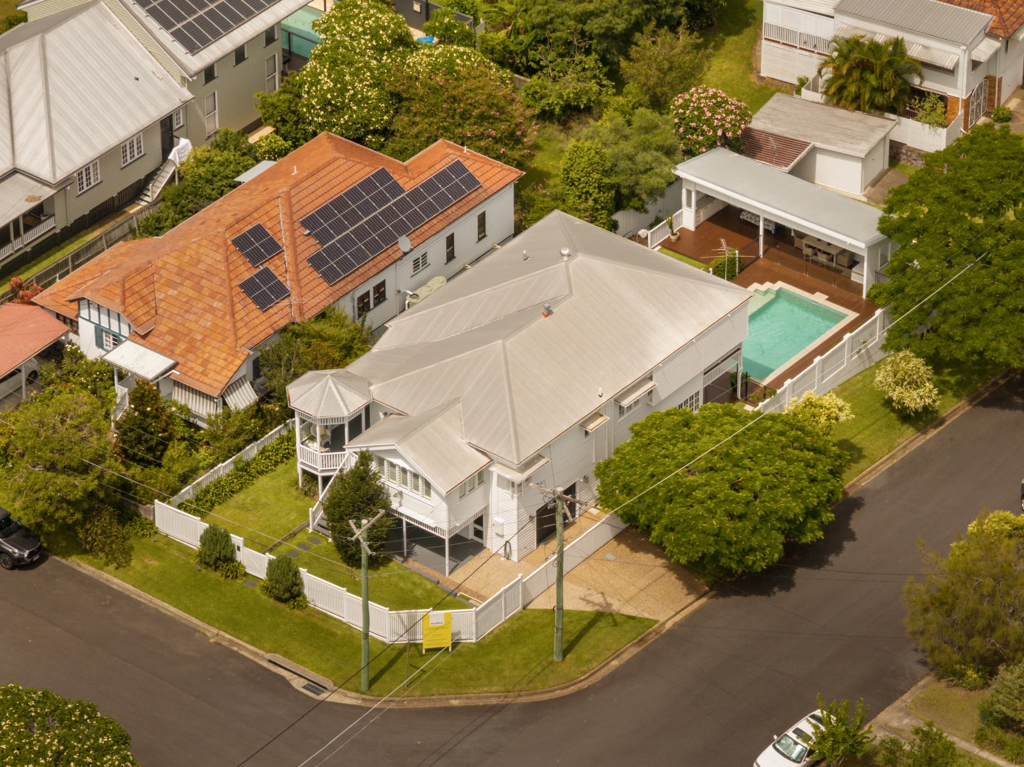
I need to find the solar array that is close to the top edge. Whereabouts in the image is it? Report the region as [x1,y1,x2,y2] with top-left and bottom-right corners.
[128,0,265,48]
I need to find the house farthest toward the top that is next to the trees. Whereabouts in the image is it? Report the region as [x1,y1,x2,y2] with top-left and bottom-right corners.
[752,0,1024,132]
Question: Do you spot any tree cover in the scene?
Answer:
Yes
